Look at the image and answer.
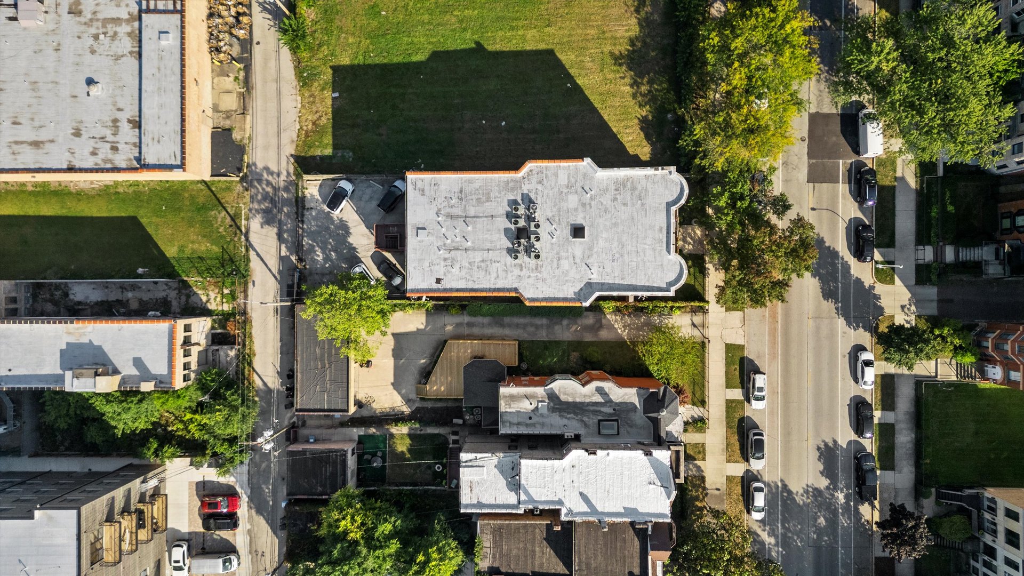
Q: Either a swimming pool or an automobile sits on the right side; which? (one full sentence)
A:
Visible on the right side is an automobile.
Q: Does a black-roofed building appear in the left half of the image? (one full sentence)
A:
Yes, there is a black-roofed building in the left half of the image.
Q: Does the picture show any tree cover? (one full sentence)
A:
Yes, there is tree cover in the image.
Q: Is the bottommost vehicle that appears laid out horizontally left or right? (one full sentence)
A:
The bottommost vehicle that appears laid out horizontally is on the left side of the image.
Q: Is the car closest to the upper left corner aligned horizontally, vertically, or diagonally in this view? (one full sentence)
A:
I'd say the car closest to the upper left corner is aligned diagonally in the picture.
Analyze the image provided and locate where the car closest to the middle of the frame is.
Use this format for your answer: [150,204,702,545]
[372,253,405,289]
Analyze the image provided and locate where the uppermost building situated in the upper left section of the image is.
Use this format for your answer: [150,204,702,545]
[0,0,210,181]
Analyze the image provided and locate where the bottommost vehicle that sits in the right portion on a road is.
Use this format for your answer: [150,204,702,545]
[748,480,768,520]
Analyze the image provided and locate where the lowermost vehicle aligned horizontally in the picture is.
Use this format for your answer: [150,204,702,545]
[188,550,241,575]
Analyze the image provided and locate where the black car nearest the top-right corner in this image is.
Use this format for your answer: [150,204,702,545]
[854,167,877,208]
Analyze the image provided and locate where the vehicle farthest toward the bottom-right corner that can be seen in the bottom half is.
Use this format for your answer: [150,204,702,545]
[852,449,876,500]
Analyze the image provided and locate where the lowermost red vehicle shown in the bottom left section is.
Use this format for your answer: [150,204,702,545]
[201,494,242,514]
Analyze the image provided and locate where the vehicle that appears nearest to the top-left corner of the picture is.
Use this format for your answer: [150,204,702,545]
[325,178,356,215]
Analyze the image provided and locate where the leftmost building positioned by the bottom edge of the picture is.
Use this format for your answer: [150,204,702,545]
[0,464,165,576]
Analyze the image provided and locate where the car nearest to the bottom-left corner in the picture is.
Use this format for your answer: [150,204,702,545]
[170,539,192,576]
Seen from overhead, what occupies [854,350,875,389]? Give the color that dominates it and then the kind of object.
white car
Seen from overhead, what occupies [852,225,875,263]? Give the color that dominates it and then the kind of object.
black car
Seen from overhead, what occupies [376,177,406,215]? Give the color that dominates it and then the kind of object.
black car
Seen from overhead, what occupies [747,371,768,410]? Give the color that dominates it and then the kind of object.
white car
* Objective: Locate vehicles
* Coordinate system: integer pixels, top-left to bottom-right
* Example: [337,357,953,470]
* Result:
[854,111,881,158]
[746,428,768,469]
[170,539,192,576]
[188,550,241,575]
[854,350,875,389]
[854,167,877,208]
[201,494,242,514]
[747,371,768,410]
[325,178,356,215]
[852,225,875,263]
[852,449,876,500]
[853,400,875,439]
[348,256,381,292]
[748,480,768,520]
[203,512,241,533]
[376,177,406,215]
[372,253,405,289]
